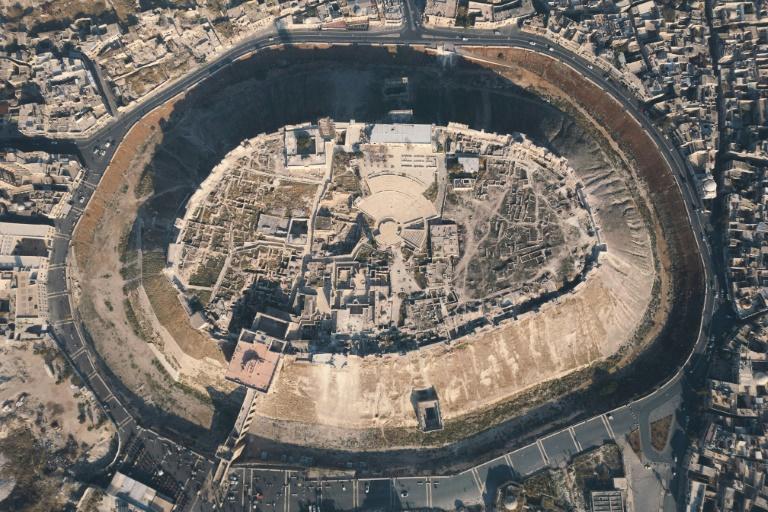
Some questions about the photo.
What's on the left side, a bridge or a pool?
bridge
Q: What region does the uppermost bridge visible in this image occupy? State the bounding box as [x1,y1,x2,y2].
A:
[219,386,260,444]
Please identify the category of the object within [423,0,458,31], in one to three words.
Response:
building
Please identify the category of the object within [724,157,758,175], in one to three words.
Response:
house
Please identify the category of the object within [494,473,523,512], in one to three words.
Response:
building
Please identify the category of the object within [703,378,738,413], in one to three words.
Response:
house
